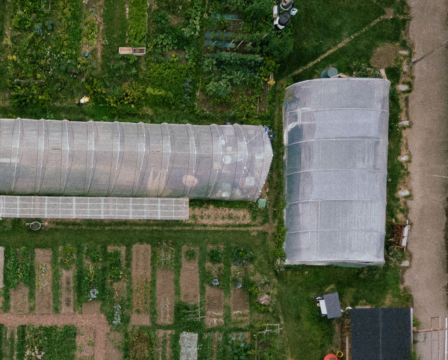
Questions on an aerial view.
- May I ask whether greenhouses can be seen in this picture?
Yes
